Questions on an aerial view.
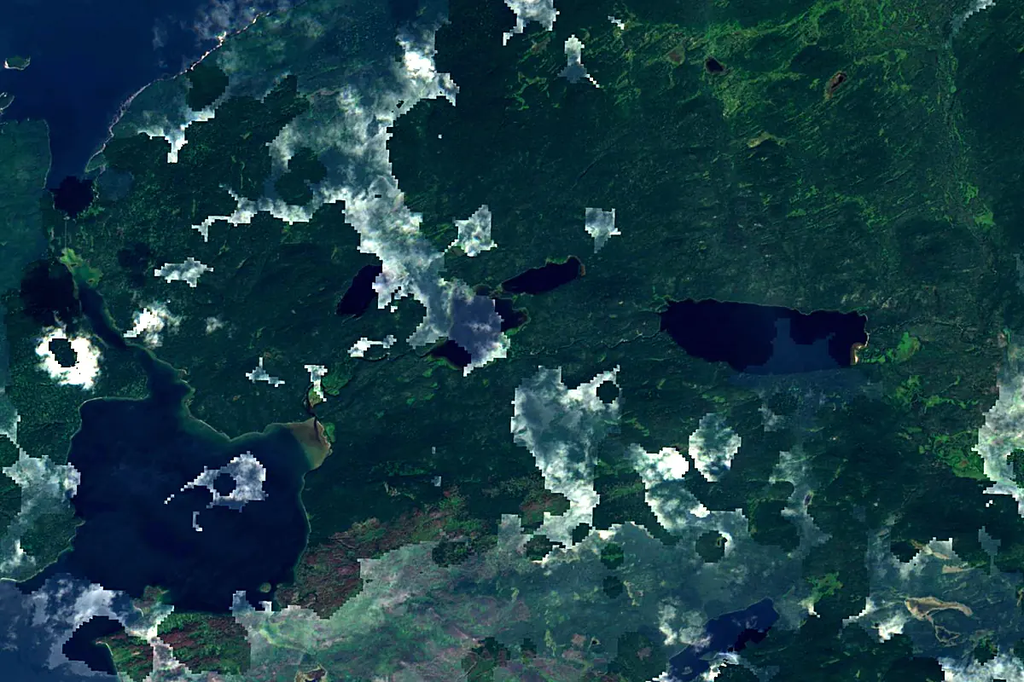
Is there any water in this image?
Yes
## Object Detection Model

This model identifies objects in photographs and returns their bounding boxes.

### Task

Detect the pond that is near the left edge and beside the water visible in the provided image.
[18,258,82,328]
